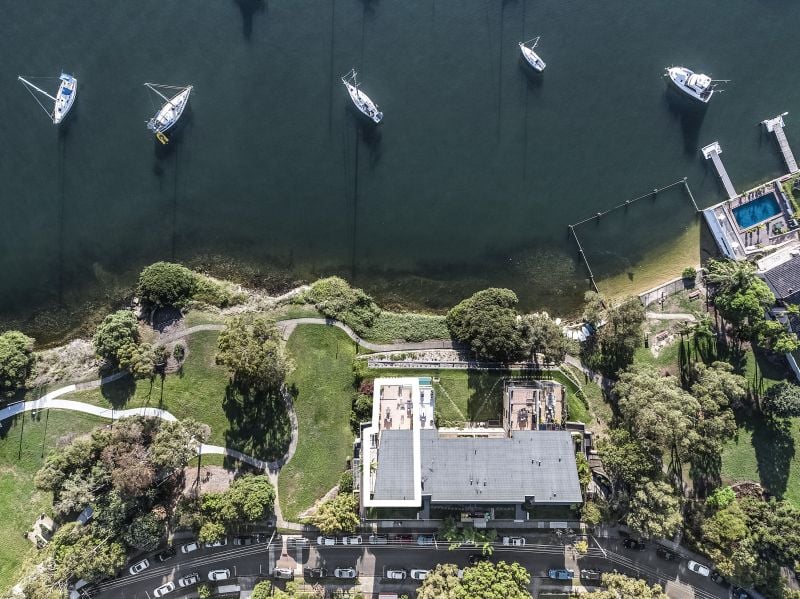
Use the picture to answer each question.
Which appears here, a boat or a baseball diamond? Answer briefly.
boat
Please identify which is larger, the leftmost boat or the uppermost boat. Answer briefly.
the leftmost boat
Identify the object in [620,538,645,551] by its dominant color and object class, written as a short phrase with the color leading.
black vehicle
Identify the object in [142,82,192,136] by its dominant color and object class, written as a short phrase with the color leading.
white boat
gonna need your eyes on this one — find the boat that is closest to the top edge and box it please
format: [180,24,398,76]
[520,36,545,73]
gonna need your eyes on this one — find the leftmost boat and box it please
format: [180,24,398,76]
[18,73,75,123]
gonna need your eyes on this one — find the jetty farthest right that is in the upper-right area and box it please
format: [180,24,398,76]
[762,112,799,173]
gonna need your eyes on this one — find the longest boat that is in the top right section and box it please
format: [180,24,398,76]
[666,68,738,106]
